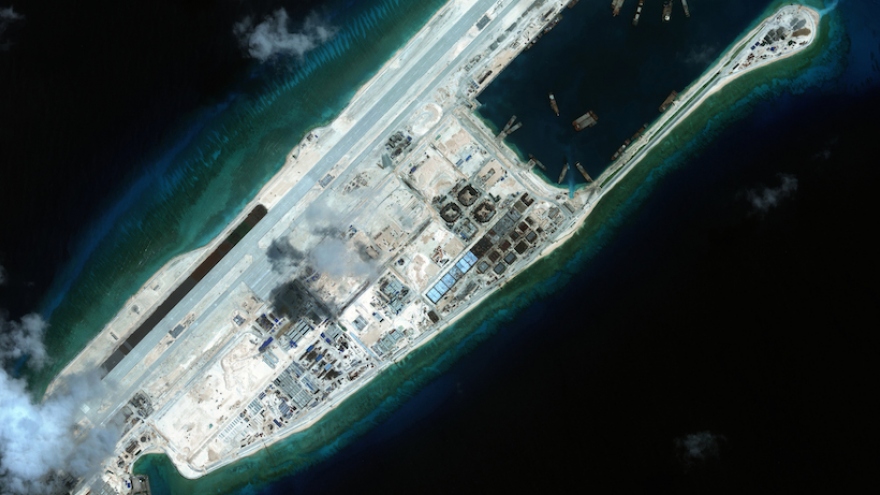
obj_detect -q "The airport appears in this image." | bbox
[54,0,522,442]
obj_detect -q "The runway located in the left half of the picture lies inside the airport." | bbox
[54,0,498,435]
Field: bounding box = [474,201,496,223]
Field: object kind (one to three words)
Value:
building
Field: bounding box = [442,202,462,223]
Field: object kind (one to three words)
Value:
building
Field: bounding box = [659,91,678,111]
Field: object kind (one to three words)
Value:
ship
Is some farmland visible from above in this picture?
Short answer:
No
